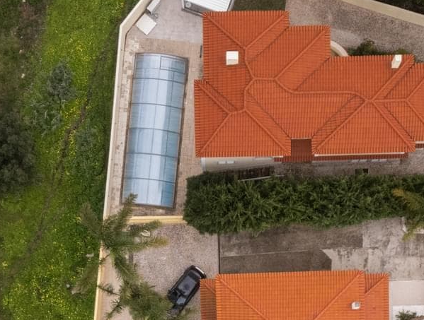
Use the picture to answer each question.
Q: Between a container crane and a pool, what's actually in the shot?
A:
pool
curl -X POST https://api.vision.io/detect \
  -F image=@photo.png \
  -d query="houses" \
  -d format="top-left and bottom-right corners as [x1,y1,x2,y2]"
[194,9,424,168]
[199,270,391,320]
